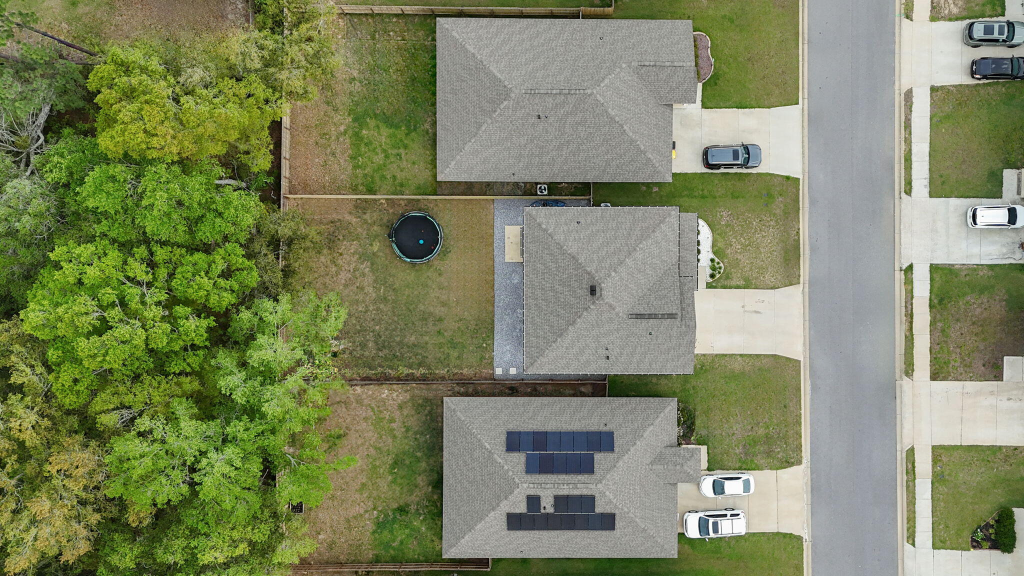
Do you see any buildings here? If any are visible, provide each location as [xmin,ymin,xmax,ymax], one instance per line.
[436,17,697,182]
[522,205,700,375]
[442,396,702,559]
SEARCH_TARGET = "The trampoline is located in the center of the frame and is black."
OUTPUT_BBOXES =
[385,210,443,263]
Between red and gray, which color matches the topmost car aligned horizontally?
gray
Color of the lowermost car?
white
